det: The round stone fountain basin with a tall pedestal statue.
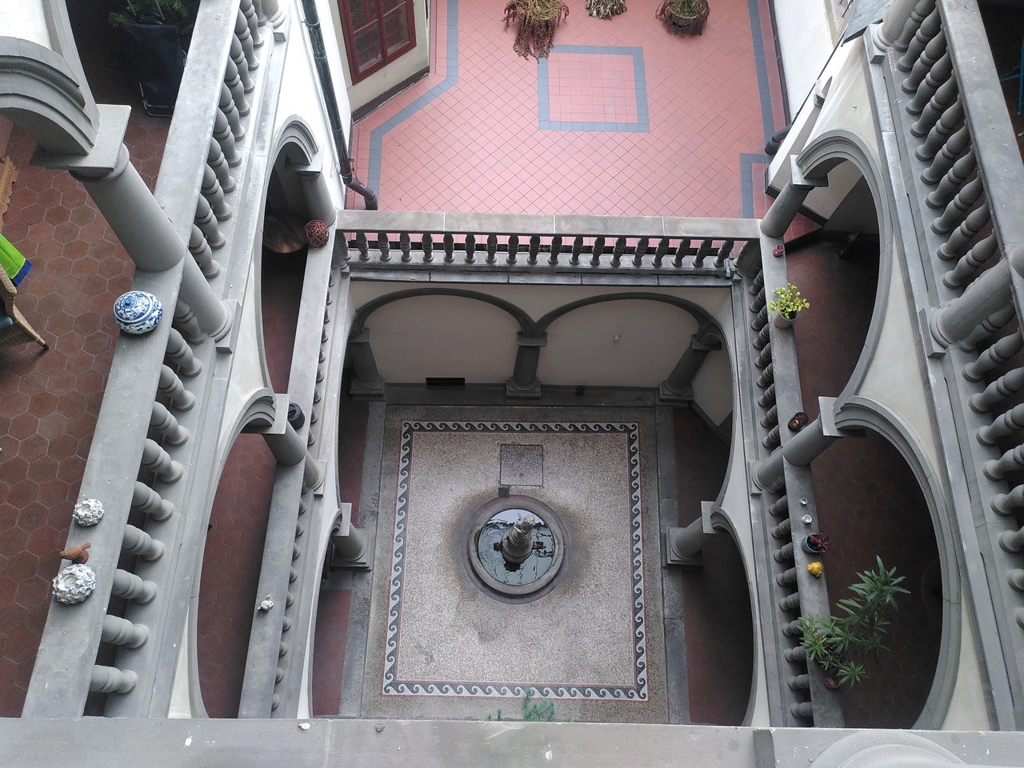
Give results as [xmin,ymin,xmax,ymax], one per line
[462,496,570,604]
